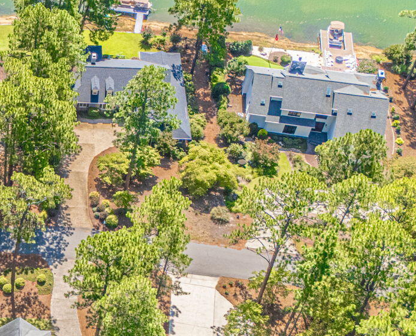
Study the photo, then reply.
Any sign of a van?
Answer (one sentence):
No, there appears to be no van in this shot.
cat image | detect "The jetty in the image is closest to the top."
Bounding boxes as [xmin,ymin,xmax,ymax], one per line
[109,6,150,33]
